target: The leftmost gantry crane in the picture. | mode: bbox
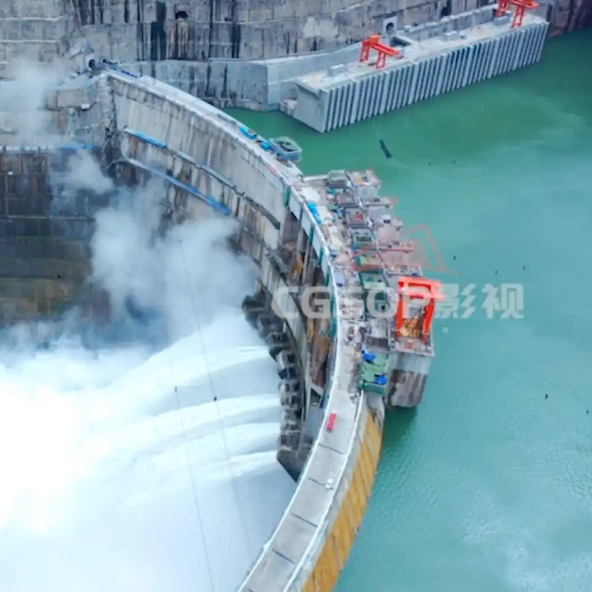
[368,31,406,70]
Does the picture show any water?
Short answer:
Yes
